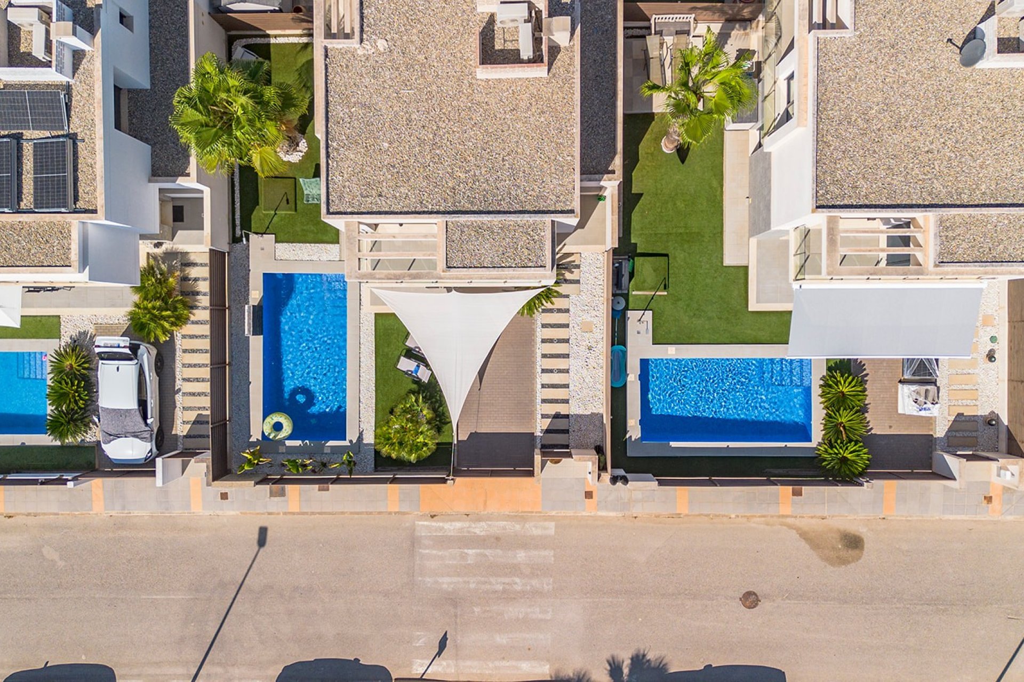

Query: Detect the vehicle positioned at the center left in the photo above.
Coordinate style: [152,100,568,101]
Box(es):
[91,327,167,464]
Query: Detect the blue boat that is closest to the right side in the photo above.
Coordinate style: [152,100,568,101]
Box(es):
[612,346,627,387]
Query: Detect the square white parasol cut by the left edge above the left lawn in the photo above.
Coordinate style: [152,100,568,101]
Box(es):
[0,289,23,327]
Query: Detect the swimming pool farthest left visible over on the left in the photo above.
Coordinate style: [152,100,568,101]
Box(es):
[0,352,47,434]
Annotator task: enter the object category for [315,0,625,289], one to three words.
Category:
house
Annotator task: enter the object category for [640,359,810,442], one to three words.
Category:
swimming pool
